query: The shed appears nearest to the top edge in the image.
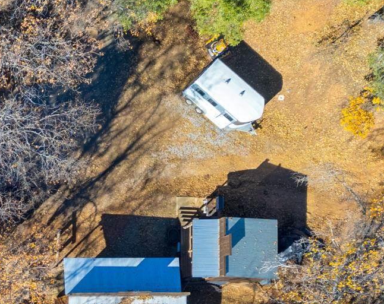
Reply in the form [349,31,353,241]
[174,216,278,279]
